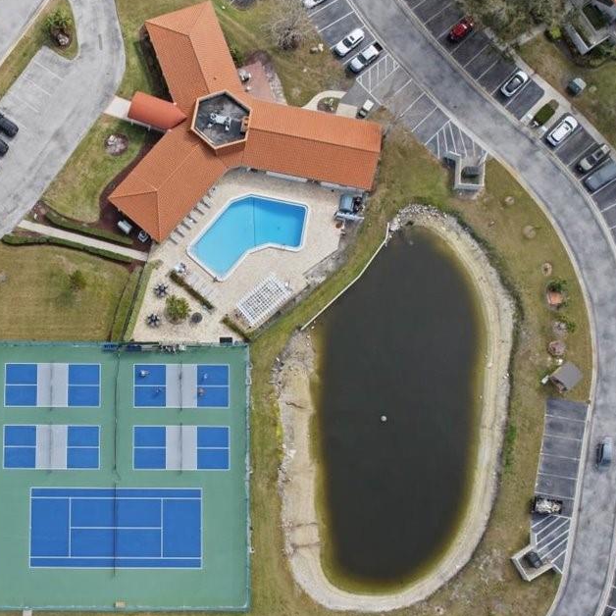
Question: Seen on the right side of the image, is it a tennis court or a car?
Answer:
car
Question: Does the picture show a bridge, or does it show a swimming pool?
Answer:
swimming pool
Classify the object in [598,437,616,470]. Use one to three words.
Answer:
car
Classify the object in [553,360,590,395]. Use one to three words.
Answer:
shed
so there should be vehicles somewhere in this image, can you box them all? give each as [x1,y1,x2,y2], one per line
[301,0,323,9]
[501,68,532,98]
[579,143,614,170]
[548,114,583,145]
[0,110,21,137]
[360,95,377,116]
[0,138,10,155]
[587,159,616,188]
[598,437,616,470]
[334,24,369,55]
[448,18,475,43]
[351,39,386,71]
